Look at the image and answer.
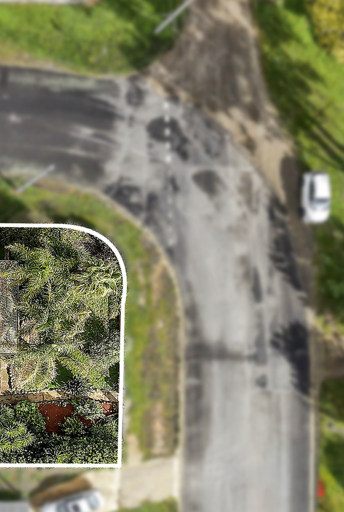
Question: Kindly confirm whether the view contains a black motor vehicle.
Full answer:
No, this view has no black motor vehicle in it.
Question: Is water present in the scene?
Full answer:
No, no water is visible.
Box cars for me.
[297,169,331,225]
[39,487,105,512]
